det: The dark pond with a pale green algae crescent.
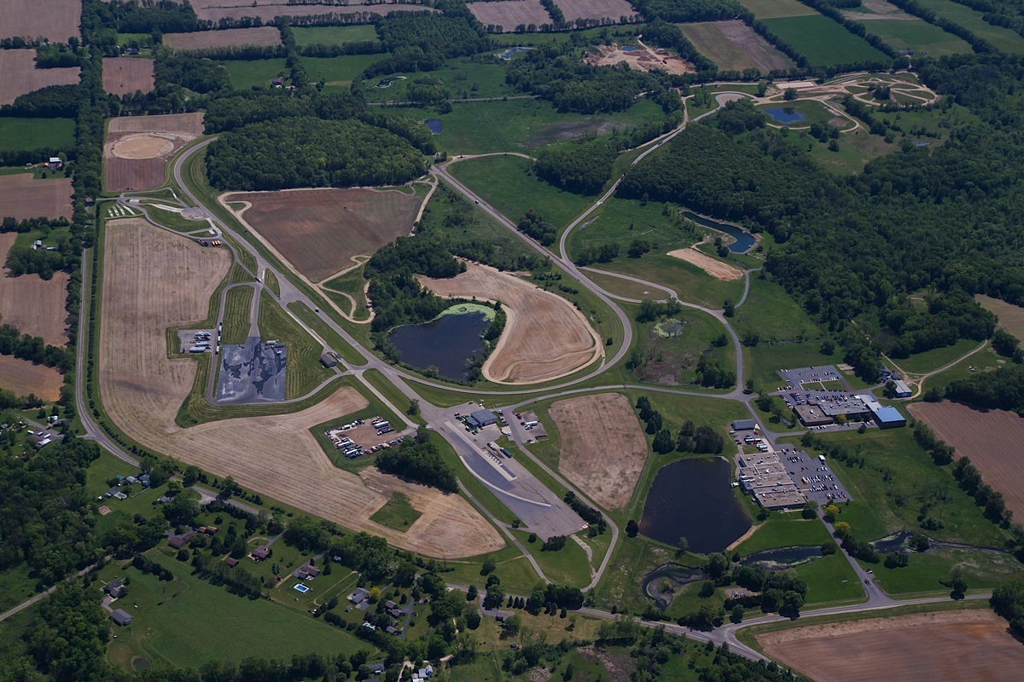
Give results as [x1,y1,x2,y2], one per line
[390,310,489,380]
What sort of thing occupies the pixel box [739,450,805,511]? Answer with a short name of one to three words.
building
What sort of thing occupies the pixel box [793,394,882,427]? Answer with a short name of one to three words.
building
